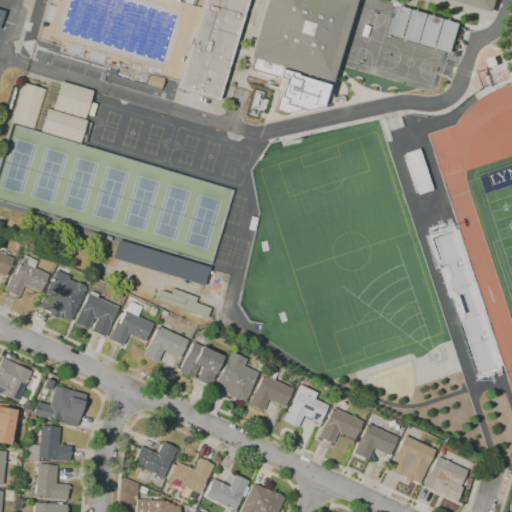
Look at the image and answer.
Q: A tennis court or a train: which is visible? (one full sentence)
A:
It is a tennis court that can be seen here.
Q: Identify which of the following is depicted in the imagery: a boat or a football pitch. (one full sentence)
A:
Of the two, only a football pitch appears.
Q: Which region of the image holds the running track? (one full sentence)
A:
You can find the running track in the right area of the picture.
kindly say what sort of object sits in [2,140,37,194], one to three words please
tennis court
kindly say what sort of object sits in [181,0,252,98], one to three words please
building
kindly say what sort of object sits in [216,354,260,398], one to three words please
house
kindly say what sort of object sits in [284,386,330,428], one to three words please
house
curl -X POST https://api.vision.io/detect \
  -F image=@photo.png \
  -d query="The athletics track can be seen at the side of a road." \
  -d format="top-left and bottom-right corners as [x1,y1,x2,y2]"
[428,84,512,384]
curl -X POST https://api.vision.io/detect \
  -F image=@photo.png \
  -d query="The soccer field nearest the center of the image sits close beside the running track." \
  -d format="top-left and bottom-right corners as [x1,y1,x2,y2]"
[242,120,450,382]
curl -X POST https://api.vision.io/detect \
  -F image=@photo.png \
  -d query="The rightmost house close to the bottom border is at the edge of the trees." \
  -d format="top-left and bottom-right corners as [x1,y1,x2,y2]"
[424,458,470,502]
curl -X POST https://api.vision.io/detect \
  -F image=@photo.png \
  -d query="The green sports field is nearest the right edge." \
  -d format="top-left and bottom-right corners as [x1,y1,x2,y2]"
[467,158,512,316]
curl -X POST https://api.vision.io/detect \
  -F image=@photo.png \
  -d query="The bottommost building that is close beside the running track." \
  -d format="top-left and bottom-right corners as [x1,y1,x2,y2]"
[404,148,436,194]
